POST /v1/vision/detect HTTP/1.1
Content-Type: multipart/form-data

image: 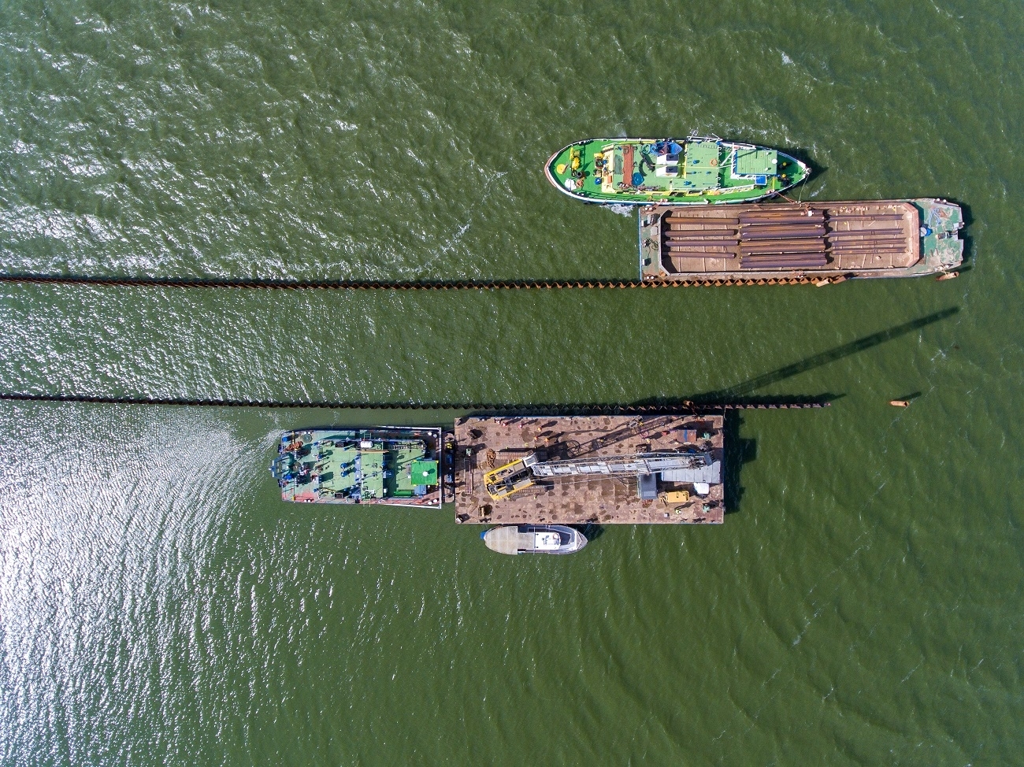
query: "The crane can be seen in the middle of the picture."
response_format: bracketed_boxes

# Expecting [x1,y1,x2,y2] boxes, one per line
[486,422,719,499]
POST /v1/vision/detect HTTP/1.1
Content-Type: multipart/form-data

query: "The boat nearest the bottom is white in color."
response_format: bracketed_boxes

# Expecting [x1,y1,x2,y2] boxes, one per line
[481,524,587,555]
